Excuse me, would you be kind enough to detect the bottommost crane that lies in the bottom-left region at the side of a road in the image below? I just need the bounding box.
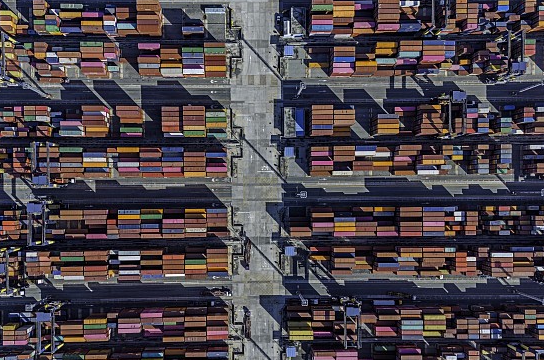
[35,301,71,358]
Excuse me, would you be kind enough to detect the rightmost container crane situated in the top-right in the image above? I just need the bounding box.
[487,29,527,84]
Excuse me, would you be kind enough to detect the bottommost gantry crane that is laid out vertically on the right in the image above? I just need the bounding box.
[334,297,360,353]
